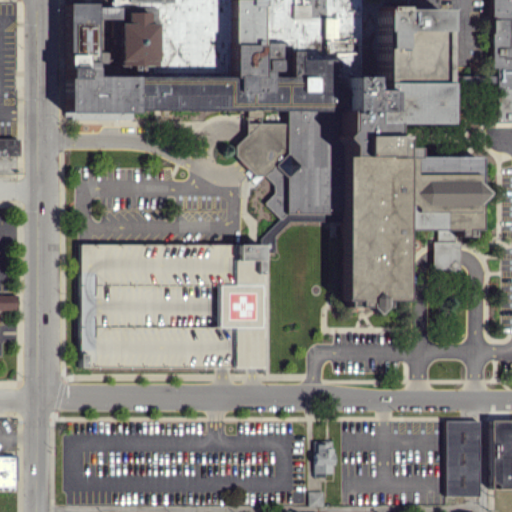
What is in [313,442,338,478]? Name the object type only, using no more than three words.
house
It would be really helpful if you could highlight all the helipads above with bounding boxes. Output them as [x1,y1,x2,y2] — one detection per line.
[218,284,266,330]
